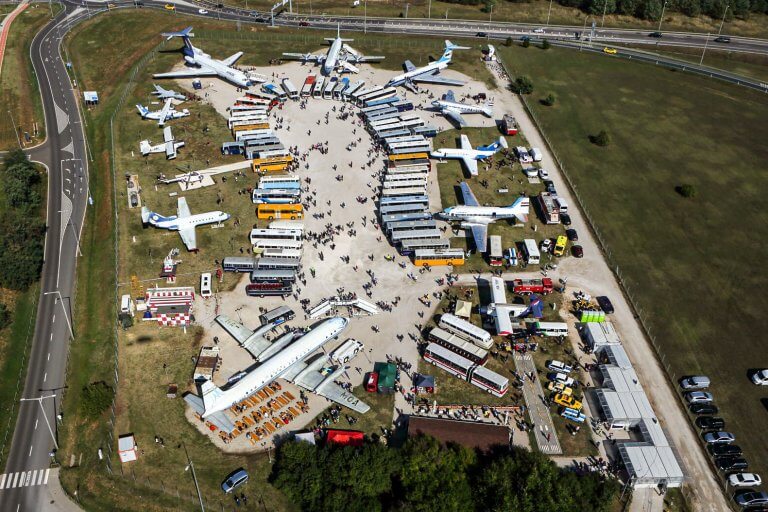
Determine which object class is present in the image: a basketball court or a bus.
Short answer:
bus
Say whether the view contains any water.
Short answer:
No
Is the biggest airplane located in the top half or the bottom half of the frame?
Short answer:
bottom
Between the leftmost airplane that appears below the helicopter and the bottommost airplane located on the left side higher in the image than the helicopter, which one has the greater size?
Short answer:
the leftmost airplane that appears below the helicopter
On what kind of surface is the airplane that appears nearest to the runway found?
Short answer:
grass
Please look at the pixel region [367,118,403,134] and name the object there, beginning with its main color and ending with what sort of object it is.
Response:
white vehicle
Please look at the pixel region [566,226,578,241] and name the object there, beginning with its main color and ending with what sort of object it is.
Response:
black vehicle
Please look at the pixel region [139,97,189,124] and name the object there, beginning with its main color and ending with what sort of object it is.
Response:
white airplane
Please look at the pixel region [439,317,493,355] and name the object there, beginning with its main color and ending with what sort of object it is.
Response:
white bus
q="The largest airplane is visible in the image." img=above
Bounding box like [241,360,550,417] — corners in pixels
[186,310,371,430]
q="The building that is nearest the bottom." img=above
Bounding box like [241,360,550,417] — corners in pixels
[611,445,684,489]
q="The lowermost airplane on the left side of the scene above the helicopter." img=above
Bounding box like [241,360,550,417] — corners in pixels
[136,125,187,157]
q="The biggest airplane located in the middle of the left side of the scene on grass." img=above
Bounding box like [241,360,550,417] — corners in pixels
[141,196,230,251]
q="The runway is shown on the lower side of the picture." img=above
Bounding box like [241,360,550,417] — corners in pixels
[513,352,562,454]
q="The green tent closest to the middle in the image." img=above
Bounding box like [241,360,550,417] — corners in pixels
[376,361,400,394]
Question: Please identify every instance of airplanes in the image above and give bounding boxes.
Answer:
[434,134,510,175]
[141,196,230,251]
[380,47,470,91]
[431,88,494,123]
[440,182,532,251]
[478,275,546,334]
[136,125,187,157]
[186,310,371,430]
[283,24,385,79]
[139,97,189,124]
[148,87,188,103]
[152,27,248,88]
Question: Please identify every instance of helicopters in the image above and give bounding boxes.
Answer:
[157,164,214,187]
